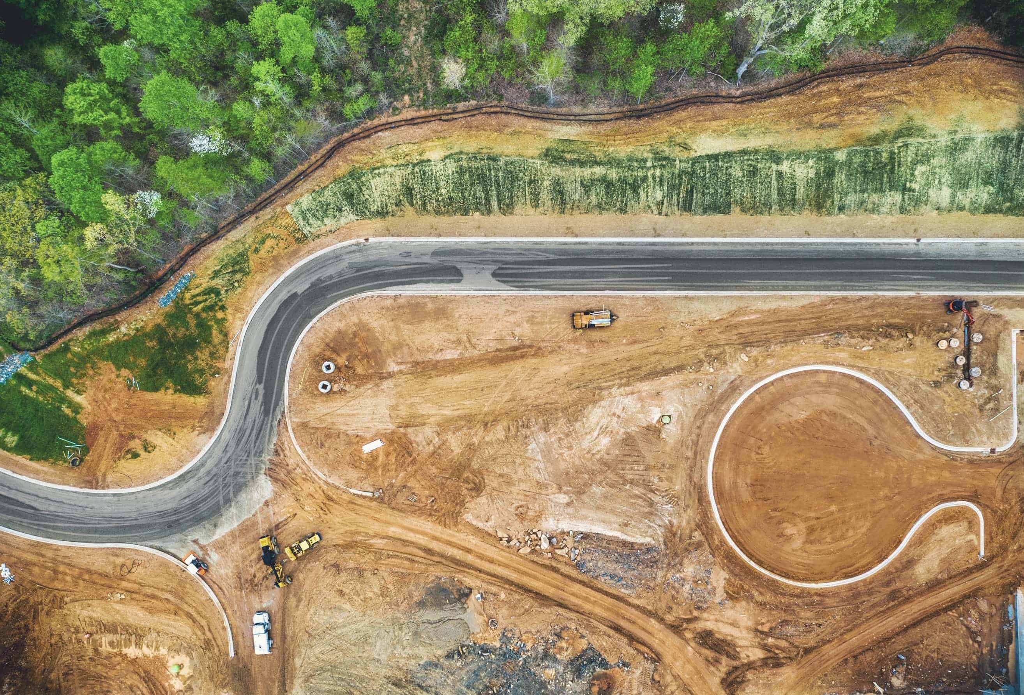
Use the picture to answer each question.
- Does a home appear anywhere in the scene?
No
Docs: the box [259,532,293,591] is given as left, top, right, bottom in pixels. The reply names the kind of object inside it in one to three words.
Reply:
work vehicle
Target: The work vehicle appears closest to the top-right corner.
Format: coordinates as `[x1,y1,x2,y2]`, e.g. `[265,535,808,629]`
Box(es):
[941,300,980,328]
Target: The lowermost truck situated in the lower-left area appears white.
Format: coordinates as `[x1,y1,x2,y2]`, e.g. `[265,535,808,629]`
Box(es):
[250,610,272,658]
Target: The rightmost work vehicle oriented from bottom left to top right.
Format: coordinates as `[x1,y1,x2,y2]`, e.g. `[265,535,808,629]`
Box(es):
[286,529,326,560]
